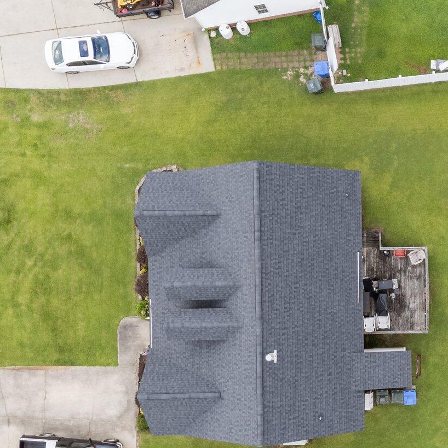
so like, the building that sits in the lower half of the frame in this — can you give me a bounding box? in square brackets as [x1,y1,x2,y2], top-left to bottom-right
[133,160,413,447]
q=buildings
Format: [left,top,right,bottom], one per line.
[133,160,413,447]
[175,0,325,36]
